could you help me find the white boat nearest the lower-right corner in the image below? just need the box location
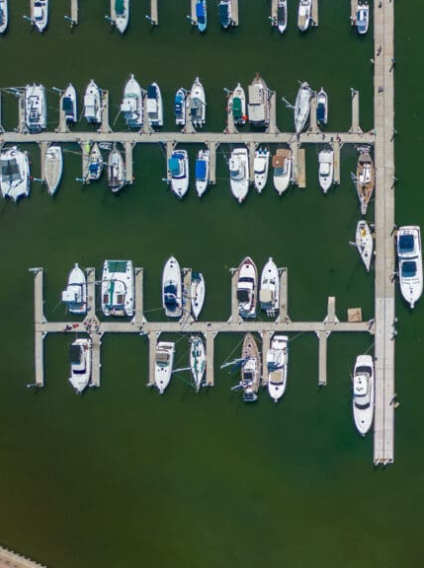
[353,348,376,436]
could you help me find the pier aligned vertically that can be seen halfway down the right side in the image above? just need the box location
[373,0,394,465]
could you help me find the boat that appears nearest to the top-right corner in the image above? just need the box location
[357,1,369,34]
